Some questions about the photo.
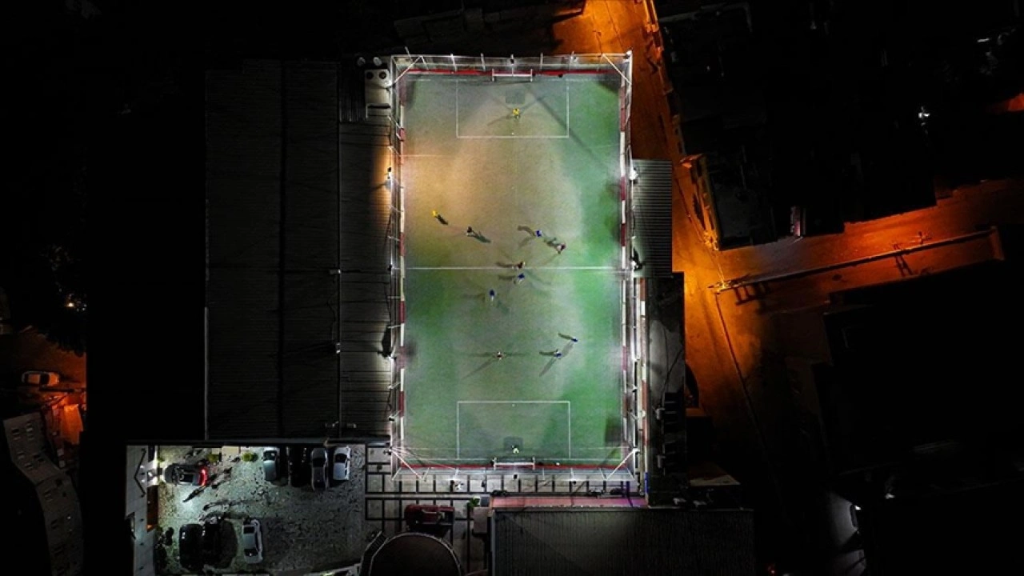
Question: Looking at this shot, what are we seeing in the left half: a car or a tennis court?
car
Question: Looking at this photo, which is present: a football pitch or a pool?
football pitch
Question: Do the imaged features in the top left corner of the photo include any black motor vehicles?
No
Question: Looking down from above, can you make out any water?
No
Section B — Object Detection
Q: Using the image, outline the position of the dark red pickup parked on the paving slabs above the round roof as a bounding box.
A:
[402,506,453,526]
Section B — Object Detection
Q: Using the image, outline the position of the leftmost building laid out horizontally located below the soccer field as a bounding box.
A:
[360,526,465,576]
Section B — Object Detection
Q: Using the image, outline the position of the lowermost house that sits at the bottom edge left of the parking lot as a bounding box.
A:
[0,412,83,576]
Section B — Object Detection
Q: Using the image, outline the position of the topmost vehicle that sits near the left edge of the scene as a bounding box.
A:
[17,369,59,388]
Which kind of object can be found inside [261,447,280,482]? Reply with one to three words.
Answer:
car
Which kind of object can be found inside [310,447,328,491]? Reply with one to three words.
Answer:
car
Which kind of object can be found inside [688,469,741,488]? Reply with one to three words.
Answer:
shed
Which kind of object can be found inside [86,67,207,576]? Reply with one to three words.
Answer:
building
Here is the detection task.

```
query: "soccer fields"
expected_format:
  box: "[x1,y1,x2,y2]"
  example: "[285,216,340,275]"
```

[402,76,625,462]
